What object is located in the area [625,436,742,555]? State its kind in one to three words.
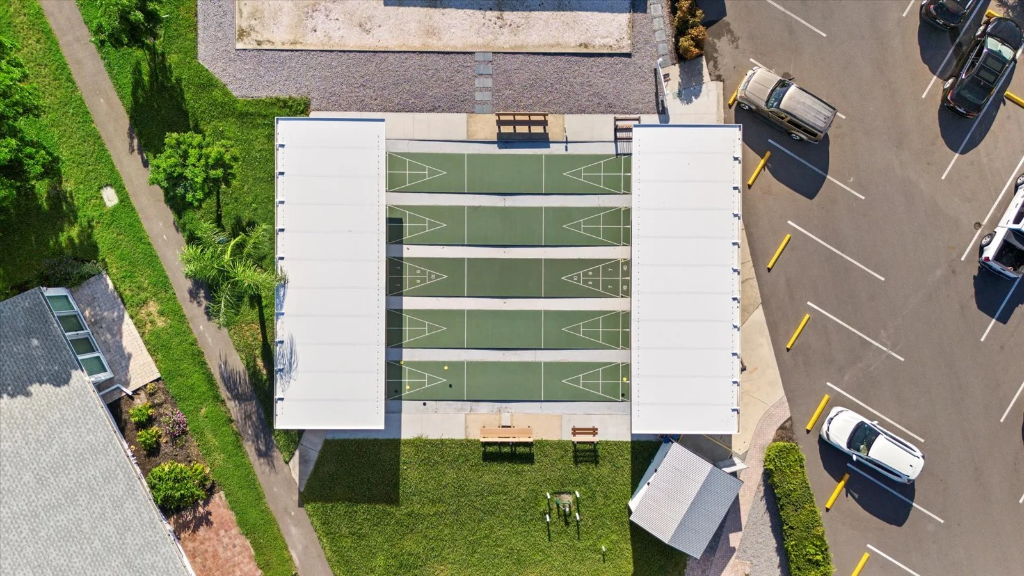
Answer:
shed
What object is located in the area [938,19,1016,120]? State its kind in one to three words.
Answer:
car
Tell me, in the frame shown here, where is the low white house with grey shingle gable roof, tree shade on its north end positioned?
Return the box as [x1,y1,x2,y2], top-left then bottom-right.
[0,286,199,576]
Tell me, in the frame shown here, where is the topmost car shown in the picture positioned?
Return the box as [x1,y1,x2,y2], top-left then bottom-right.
[923,0,977,35]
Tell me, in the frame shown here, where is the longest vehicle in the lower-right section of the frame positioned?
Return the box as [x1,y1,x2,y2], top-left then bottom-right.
[818,407,924,483]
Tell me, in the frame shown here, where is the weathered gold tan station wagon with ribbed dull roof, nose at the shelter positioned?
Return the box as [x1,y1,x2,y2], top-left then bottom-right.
[730,66,841,145]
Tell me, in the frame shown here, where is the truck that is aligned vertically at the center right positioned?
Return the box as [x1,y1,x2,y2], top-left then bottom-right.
[976,181,1024,287]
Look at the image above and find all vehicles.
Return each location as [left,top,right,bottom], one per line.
[923,0,977,35]
[938,19,1016,120]
[818,407,924,483]
[976,181,1024,287]
[730,66,841,145]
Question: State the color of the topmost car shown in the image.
black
